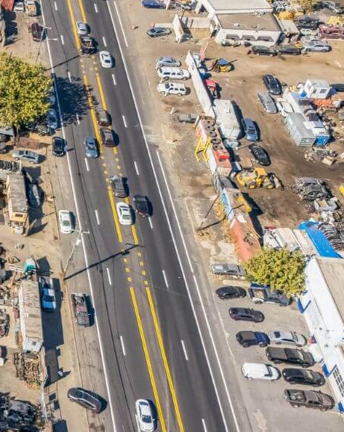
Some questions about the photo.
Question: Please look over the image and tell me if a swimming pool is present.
No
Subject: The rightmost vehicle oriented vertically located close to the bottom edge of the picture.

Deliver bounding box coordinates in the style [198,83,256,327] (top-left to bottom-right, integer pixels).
[135,396,157,432]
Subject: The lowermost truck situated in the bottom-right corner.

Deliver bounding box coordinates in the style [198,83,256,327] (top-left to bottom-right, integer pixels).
[282,388,336,412]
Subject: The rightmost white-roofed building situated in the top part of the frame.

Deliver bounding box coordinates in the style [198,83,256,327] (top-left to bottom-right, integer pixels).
[302,79,331,105]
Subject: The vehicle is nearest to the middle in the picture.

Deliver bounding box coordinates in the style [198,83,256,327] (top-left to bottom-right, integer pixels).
[134,194,152,218]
